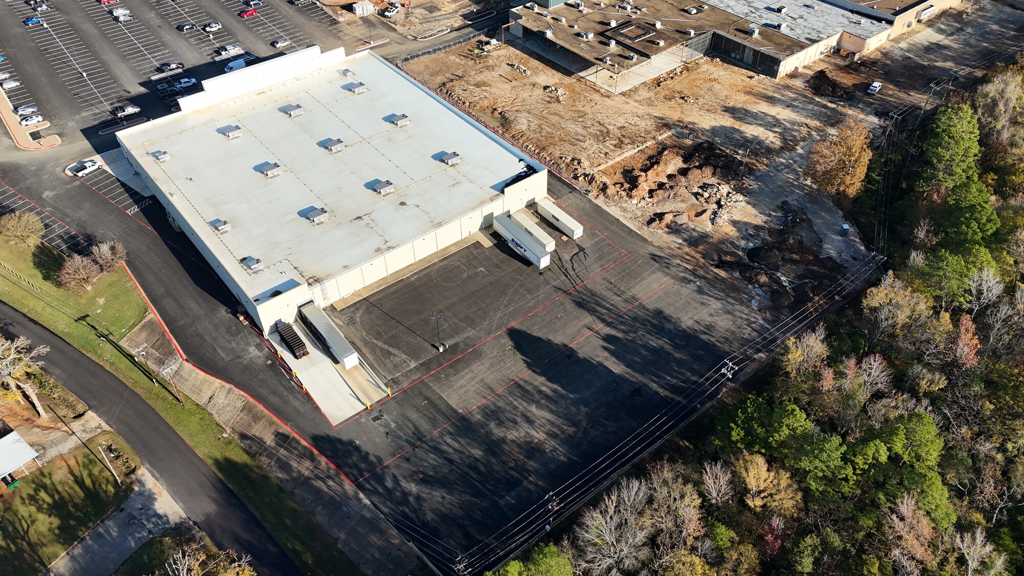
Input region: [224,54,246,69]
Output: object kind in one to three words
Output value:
vehicle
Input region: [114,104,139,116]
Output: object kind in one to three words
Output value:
vehicle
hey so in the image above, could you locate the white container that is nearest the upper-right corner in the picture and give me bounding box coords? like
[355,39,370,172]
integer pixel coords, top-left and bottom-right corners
[537,199,583,240]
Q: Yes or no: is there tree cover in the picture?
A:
Yes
